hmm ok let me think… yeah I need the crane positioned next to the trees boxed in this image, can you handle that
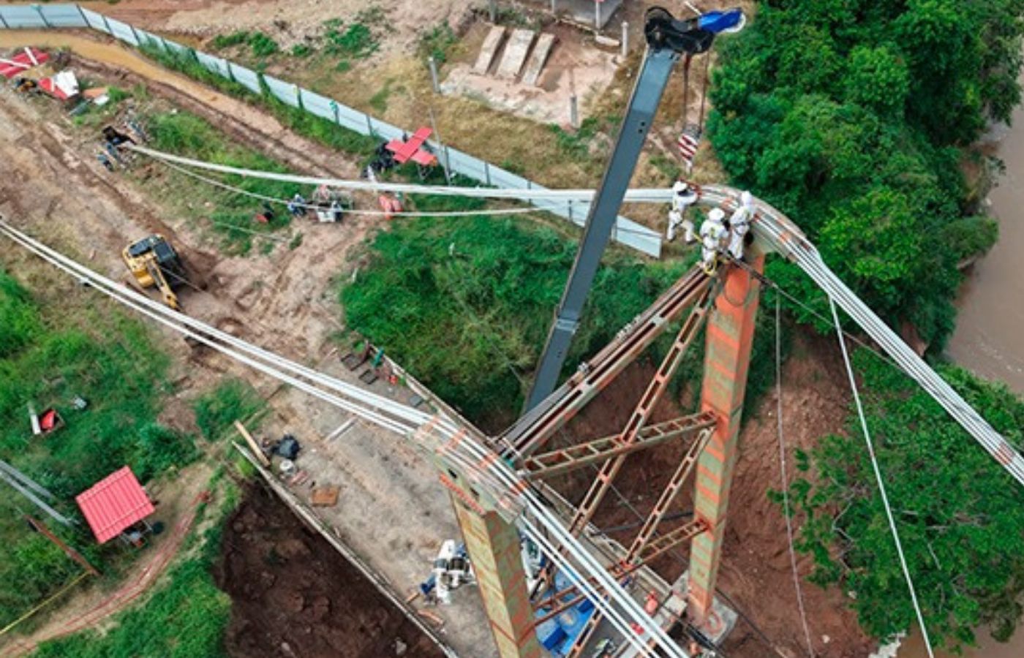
[408,0,721,658]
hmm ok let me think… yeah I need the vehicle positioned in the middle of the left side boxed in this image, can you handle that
[109,221,185,315]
